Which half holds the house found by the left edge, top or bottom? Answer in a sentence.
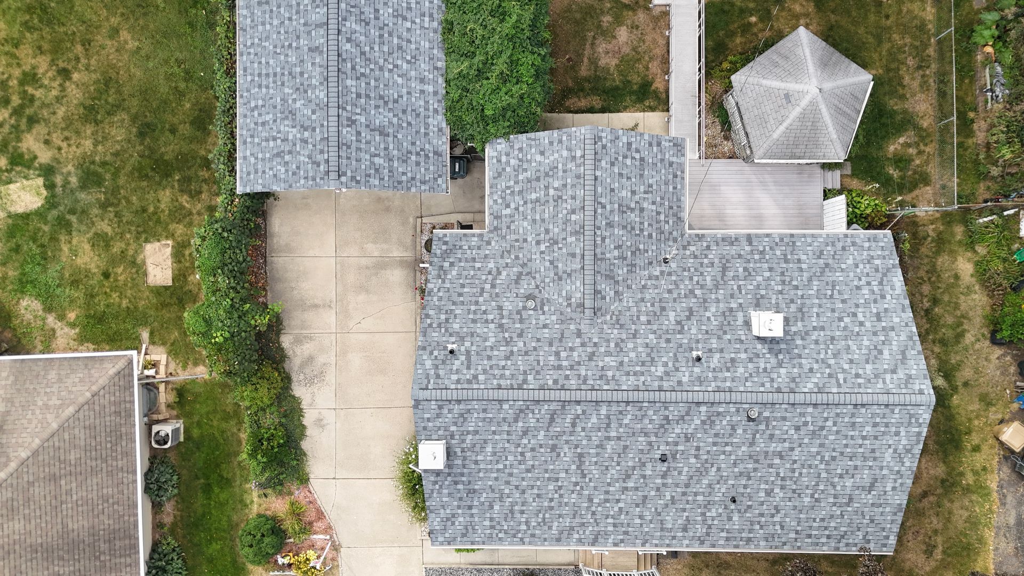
Seen from above, the house found by the left edge lies in the bottom half of the view.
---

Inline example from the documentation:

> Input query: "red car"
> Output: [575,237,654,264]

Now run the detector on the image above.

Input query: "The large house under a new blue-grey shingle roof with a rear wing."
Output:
[409,127,936,555]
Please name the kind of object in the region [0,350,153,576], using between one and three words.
house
